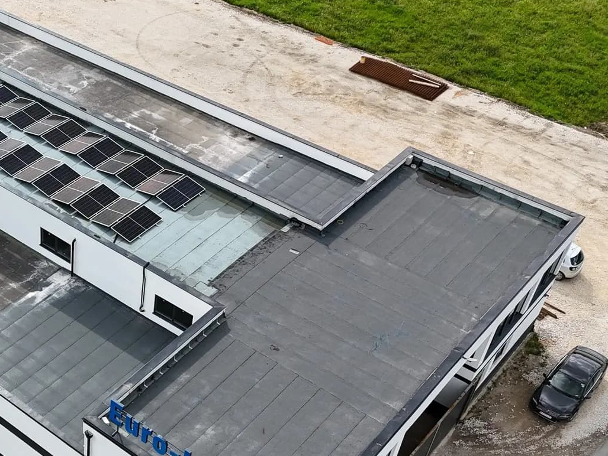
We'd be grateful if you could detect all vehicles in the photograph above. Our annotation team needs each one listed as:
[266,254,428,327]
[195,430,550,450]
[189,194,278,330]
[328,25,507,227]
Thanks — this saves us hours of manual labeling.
[533,347,608,427]
[555,243,586,281]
